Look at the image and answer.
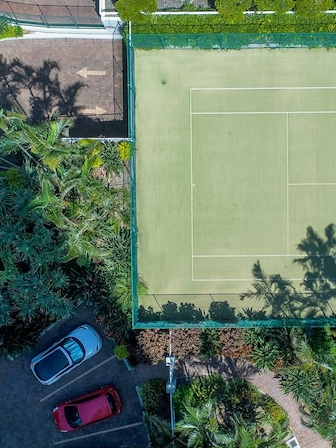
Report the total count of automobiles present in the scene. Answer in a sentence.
There are 2 automobiles in the image.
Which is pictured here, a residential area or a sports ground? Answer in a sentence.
The area seen from above is a sports ground.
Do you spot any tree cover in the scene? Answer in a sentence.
Yes, some tree cover is visible.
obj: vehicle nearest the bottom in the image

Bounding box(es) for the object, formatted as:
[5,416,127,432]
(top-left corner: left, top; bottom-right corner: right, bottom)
[52,385,127,431]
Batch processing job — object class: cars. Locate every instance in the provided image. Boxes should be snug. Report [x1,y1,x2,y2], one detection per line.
[52,385,127,431]
[26,321,106,387]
